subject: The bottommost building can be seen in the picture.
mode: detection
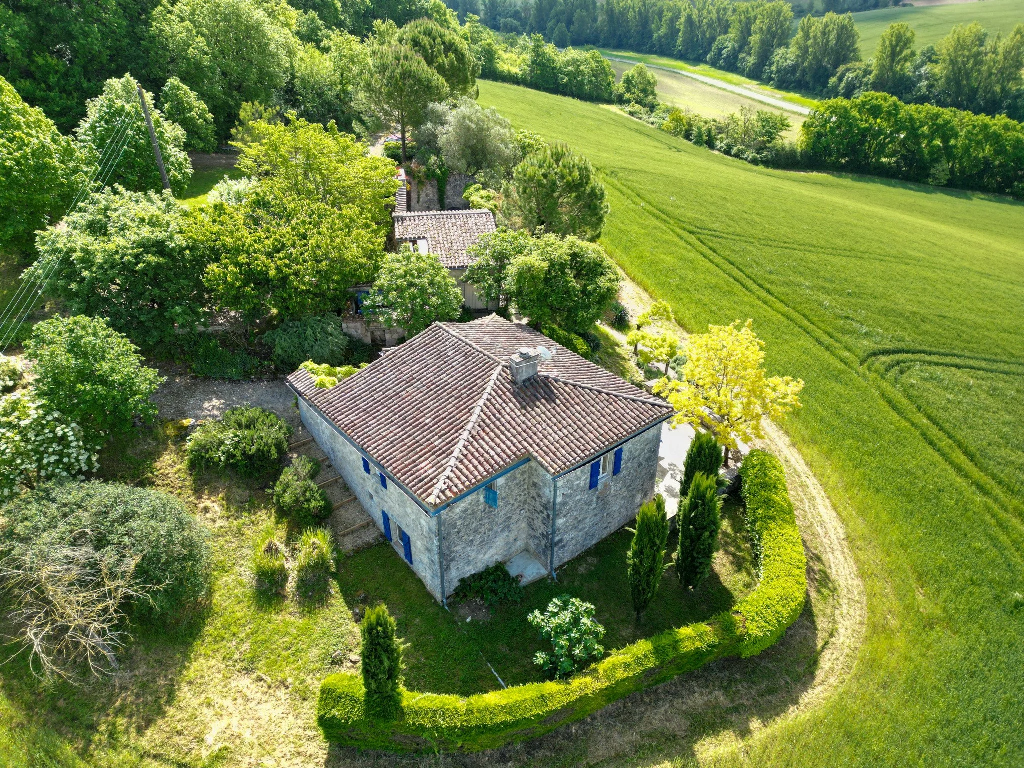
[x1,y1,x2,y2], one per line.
[284,312,682,611]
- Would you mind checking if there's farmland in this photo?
Yes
